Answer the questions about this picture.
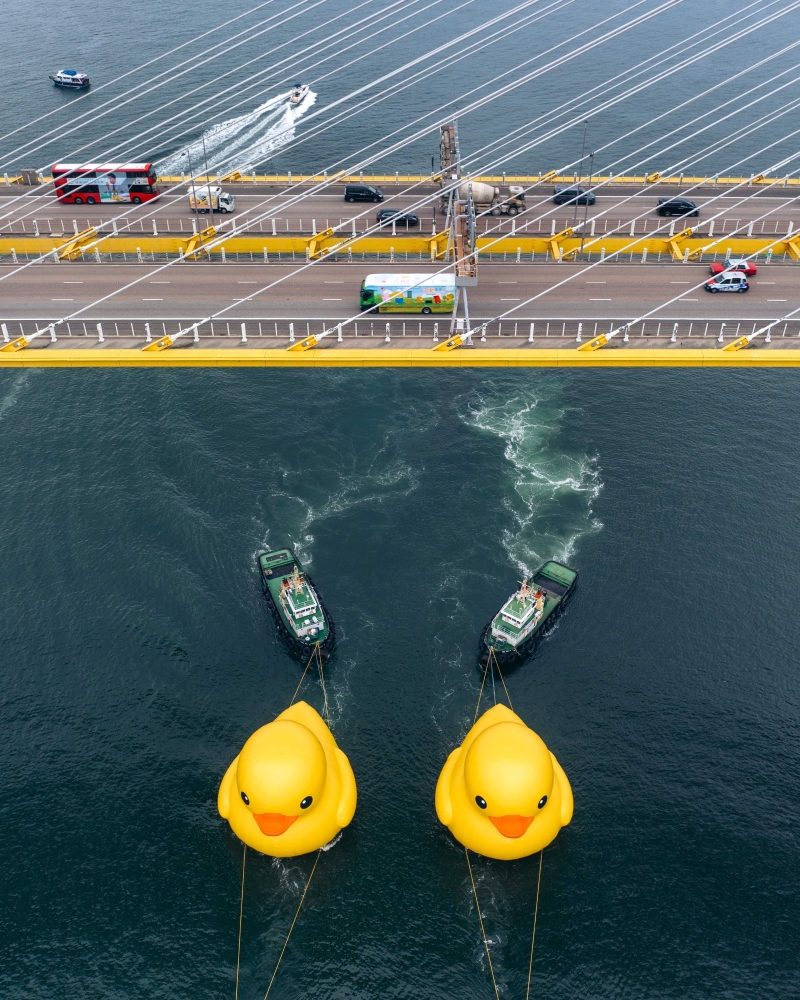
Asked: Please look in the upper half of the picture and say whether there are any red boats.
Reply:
No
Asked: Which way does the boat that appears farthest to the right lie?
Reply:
diagonally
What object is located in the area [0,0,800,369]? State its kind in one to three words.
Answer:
bridge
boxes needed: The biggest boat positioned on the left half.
[255,547,337,663]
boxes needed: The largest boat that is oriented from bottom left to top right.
[480,558,578,668]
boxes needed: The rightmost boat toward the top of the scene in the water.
[286,84,314,102]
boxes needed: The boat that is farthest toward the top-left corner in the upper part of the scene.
[54,69,90,86]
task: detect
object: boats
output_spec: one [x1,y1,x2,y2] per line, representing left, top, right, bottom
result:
[480,558,578,668]
[286,84,314,102]
[54,69,90,86]
[255,547,337,663]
